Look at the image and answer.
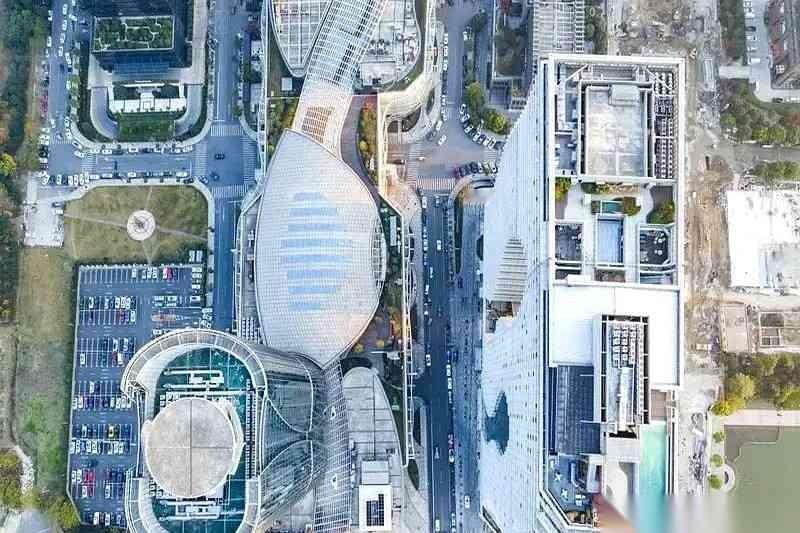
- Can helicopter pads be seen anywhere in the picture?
Yes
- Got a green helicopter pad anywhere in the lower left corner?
No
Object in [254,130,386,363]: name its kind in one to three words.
building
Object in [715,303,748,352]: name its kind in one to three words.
building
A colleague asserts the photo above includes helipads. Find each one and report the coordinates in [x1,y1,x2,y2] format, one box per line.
[141,394,252,498]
